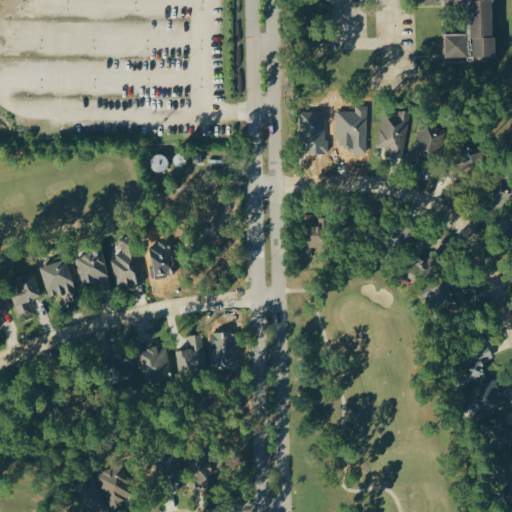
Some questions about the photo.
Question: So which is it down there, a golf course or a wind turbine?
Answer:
golf course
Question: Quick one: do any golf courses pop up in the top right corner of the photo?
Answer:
No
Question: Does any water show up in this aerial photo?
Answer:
No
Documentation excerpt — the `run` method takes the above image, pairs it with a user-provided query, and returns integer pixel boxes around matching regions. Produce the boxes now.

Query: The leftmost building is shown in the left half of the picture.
[10,273,46,322]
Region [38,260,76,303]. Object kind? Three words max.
house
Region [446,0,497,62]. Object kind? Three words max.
building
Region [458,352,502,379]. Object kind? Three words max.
house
